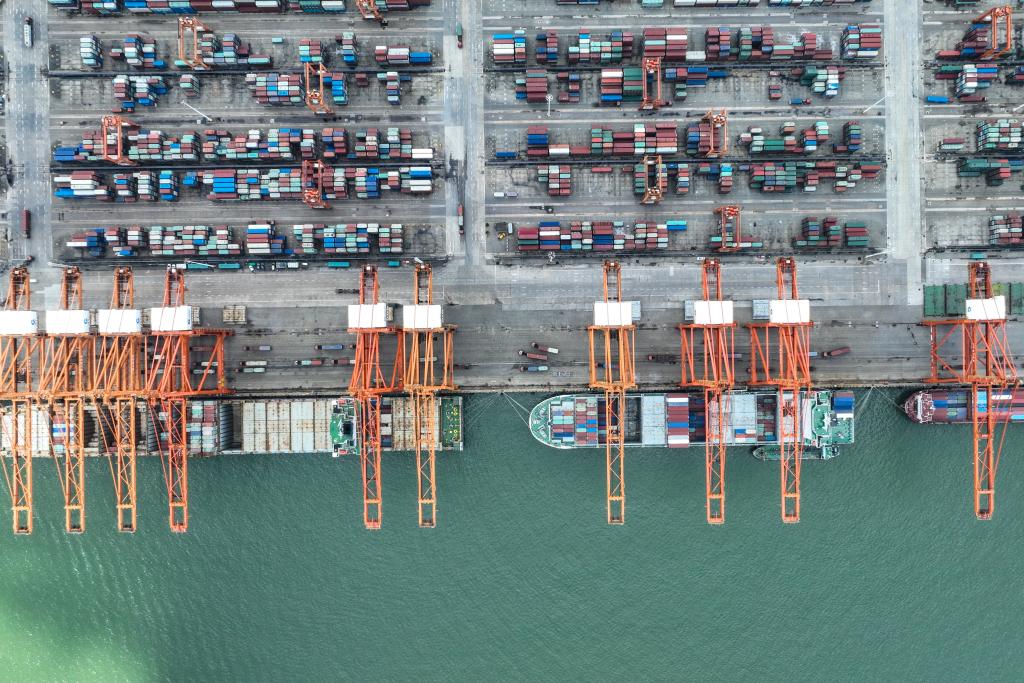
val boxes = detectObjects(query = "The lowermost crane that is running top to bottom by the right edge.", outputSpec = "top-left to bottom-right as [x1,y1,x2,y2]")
[916,260,1024,522]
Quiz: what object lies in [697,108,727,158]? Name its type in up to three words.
container crane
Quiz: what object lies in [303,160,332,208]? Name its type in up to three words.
container crane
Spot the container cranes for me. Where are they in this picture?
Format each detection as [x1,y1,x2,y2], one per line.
[348,262,407,530]
[636,58,662,110]
[636,155,663,204]
[580,259,637,525]
[360,0,386,19]
[740,257,818,523]
[88,268,178,534]
[0,269,85,535]
[671,258,736,524]
[303,160,332,208]
[916,260,1024,522]
[102,116,140,165]
[144,267,235,534]
[178,17,214,70]
[35,269,127,534]
[304,62,334,114]
[401,261,458,530]
[697,108,727,158]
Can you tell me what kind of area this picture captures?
port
